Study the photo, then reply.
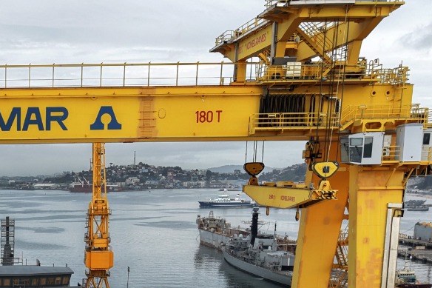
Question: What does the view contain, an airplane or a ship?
ship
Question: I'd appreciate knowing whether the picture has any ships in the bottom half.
Yes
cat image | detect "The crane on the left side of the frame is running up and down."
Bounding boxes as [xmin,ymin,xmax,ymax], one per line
[79,143,111,288]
